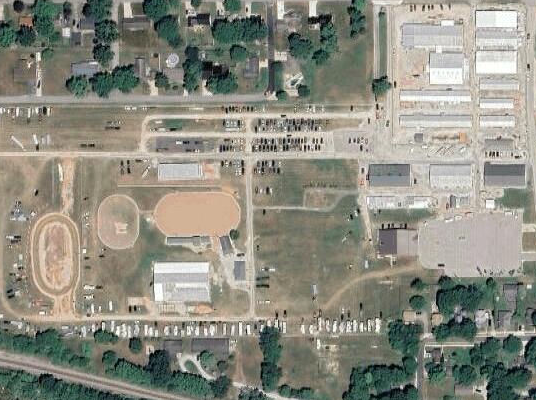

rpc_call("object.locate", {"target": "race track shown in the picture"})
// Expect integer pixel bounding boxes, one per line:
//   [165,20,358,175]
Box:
[29,212,81,298]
